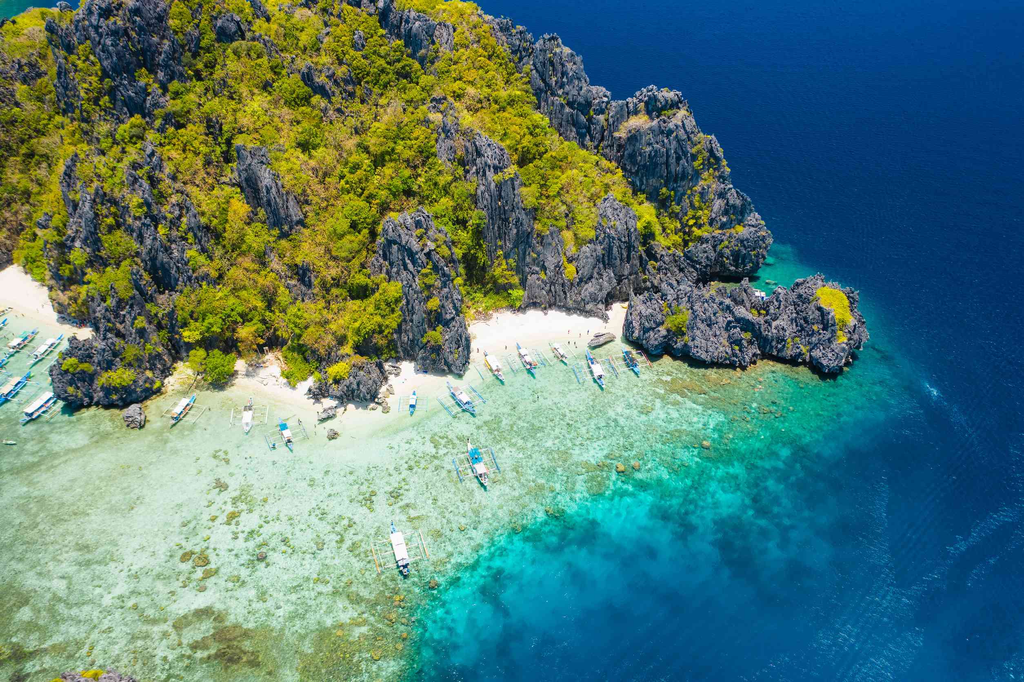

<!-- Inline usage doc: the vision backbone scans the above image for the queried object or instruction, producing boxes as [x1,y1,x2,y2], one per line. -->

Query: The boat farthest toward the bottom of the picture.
[372,504,430,578]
